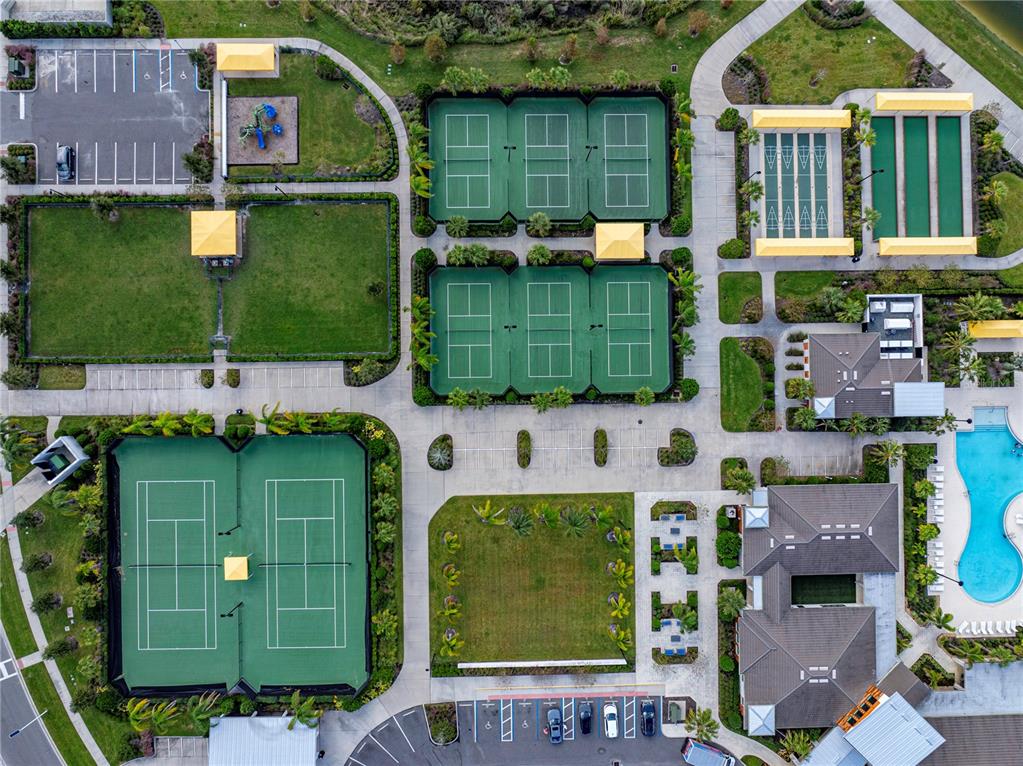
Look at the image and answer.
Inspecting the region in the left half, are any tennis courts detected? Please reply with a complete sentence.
Yes, a tennis court shows up in the left half.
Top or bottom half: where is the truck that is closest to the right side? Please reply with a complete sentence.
Seen from above, the truck that is closest to the right side lies in the bottom half of the view.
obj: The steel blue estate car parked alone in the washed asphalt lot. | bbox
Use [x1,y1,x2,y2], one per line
[55,143,74,178]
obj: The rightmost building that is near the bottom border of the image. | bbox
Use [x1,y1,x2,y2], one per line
[733,483,1023,766]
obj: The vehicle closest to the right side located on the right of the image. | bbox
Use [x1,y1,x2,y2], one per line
[674,728,733,766]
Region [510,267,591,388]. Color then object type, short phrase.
green sports court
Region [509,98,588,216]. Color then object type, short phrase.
green sports court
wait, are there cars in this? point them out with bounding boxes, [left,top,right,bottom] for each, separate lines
[540,705,567,741]
[639,697,656,735]
[577,700,593,733]
[603,700,619,736]
[55,143,74,178]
